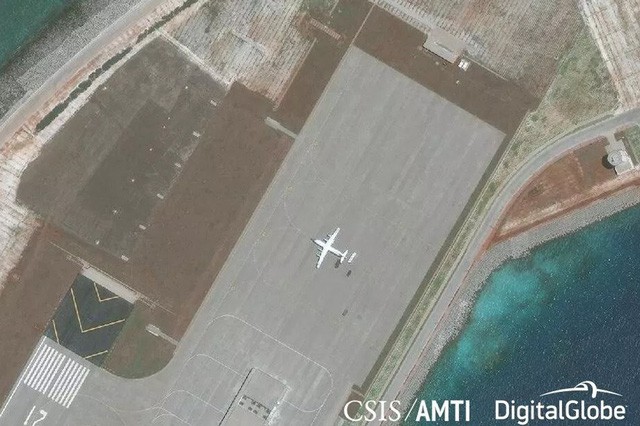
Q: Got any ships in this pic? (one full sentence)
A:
No, the frame has no ship in it.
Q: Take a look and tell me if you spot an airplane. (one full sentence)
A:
Yes, I can see an airplane in this picture.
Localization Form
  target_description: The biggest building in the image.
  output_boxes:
[424,27,464,62]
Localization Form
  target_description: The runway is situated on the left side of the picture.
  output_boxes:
[0,334,103,426]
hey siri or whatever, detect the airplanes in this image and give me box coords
[311,227,348,267]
